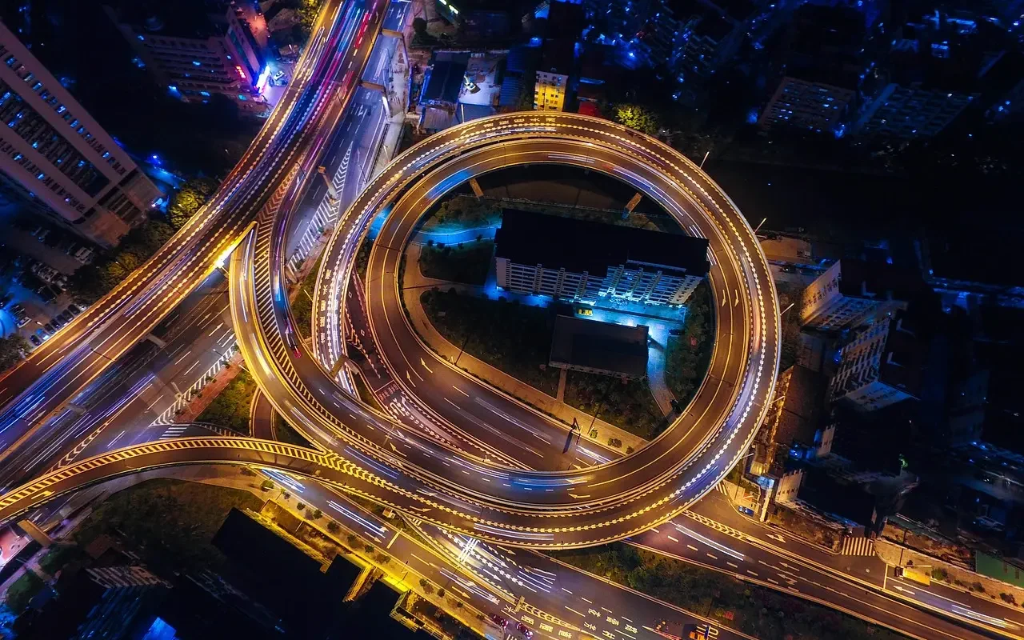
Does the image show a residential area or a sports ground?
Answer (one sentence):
This image shows a residential area.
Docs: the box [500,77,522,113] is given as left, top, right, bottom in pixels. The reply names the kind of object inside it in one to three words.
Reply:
shed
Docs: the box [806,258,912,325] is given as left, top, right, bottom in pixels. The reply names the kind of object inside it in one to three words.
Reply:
building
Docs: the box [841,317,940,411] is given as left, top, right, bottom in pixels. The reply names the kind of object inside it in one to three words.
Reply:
building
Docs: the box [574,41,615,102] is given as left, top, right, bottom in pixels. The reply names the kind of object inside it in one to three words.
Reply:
house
